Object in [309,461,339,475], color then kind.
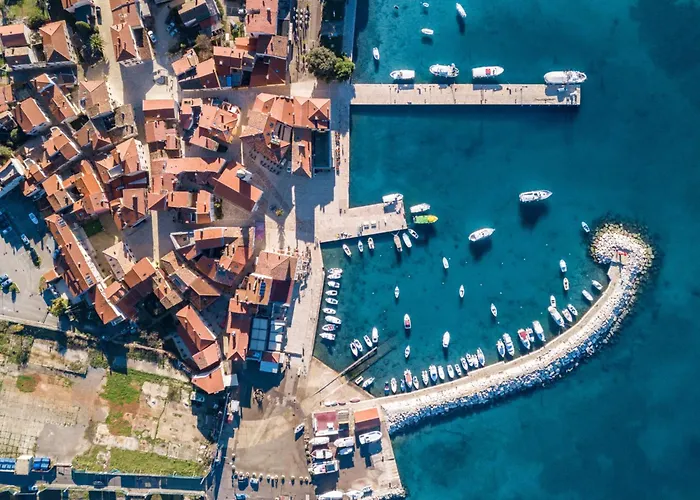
white boat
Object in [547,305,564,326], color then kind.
white boat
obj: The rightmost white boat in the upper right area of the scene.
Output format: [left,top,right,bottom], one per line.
[543,68,589,83]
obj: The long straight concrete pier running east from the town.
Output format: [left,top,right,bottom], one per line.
[348,83,580,106]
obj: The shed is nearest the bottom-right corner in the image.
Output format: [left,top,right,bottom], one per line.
[353,405,382,434]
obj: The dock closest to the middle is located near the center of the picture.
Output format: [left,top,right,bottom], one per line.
[319,201,407,243]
